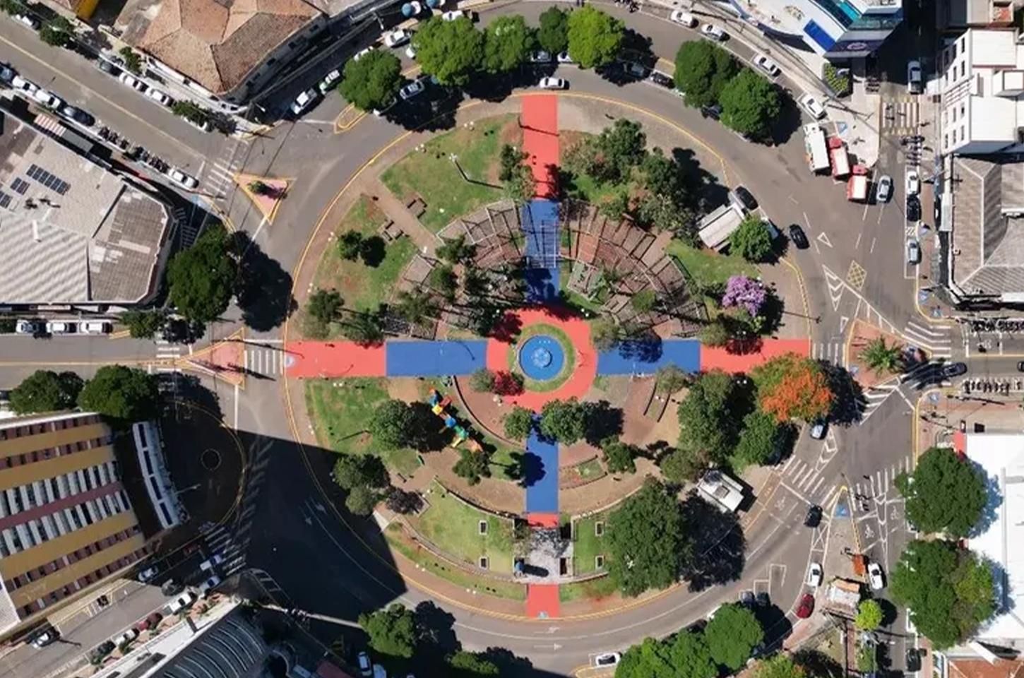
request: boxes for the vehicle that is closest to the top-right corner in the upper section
[907,62,922,92]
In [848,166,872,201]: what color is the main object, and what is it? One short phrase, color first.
white truck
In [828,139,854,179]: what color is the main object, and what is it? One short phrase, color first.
white truck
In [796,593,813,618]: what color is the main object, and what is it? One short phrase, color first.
red car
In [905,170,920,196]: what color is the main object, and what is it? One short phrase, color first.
white car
